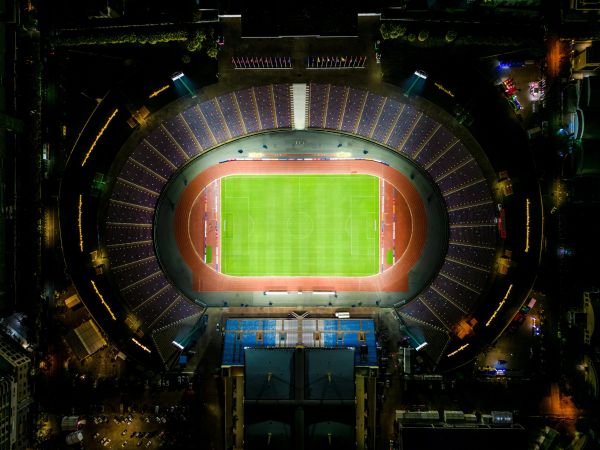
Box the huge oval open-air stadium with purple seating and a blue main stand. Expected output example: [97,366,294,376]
[99,76,502,370]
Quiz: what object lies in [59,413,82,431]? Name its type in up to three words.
hangar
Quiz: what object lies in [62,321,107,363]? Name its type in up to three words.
building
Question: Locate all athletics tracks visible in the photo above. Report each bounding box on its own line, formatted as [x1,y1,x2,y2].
[175,154,427,291]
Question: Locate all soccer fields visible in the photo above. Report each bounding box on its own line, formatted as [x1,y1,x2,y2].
[221,175,380,276]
